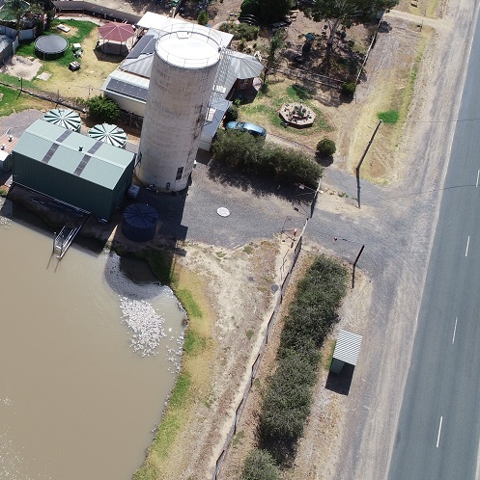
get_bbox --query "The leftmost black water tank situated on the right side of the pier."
[120,203,160,248]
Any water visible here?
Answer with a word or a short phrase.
Yes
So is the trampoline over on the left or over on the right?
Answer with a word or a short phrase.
left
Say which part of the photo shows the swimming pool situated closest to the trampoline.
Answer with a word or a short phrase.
top left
